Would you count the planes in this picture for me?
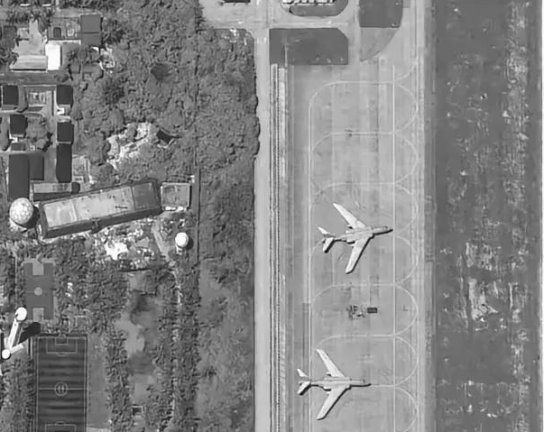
2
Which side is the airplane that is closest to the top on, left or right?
right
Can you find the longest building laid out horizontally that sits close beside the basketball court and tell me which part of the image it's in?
left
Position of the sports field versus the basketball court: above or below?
below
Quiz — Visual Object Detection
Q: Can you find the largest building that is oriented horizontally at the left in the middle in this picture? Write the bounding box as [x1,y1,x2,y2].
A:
[39,181,162,241]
